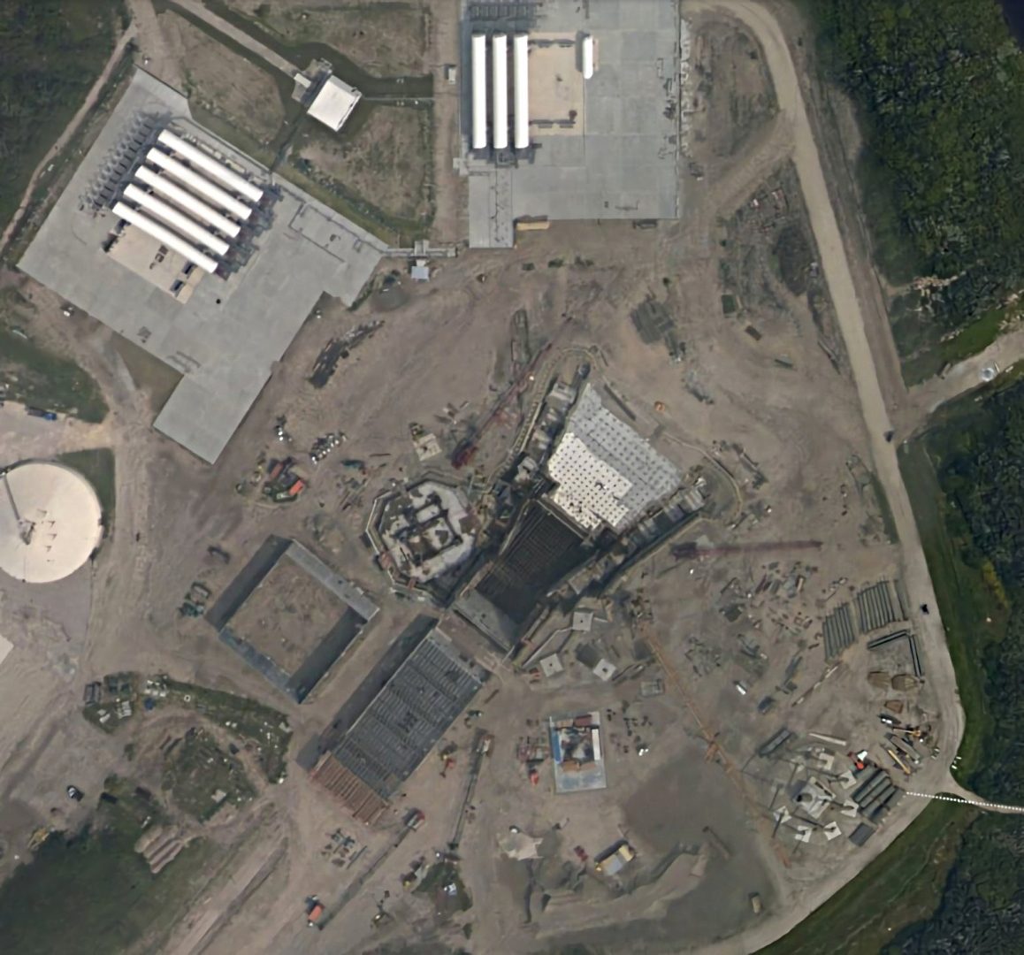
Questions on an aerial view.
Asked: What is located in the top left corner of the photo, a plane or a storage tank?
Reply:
storage tank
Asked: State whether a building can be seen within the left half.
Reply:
Yes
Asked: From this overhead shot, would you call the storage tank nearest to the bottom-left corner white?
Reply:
Yes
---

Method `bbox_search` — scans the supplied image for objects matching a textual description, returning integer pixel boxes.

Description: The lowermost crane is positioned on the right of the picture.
[640,619,724,763]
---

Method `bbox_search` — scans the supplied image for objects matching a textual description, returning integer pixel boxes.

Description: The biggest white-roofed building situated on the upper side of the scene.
[309,75,362,132]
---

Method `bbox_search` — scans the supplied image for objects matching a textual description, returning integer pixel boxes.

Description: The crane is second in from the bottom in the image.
[670,538,823,559]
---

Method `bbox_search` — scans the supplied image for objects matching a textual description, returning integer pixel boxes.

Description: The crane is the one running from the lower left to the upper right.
[449,315,572,469]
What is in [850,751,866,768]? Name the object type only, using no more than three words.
vehicle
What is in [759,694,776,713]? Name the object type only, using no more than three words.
vehicle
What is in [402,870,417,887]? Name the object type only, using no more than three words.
work vehicle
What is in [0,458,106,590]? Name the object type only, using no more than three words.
storage tank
